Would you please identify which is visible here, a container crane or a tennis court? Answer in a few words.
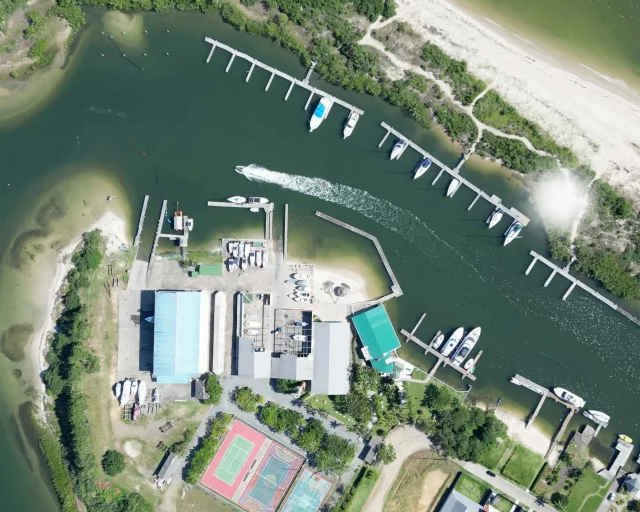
tennis court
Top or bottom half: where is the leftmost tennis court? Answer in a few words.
bottom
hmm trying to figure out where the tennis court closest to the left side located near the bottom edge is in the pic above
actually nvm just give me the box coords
[202,419,266,499]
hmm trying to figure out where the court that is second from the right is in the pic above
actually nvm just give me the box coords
[238,442,303,512]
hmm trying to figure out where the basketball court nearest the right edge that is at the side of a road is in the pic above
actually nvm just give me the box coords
[279,466,335,512]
